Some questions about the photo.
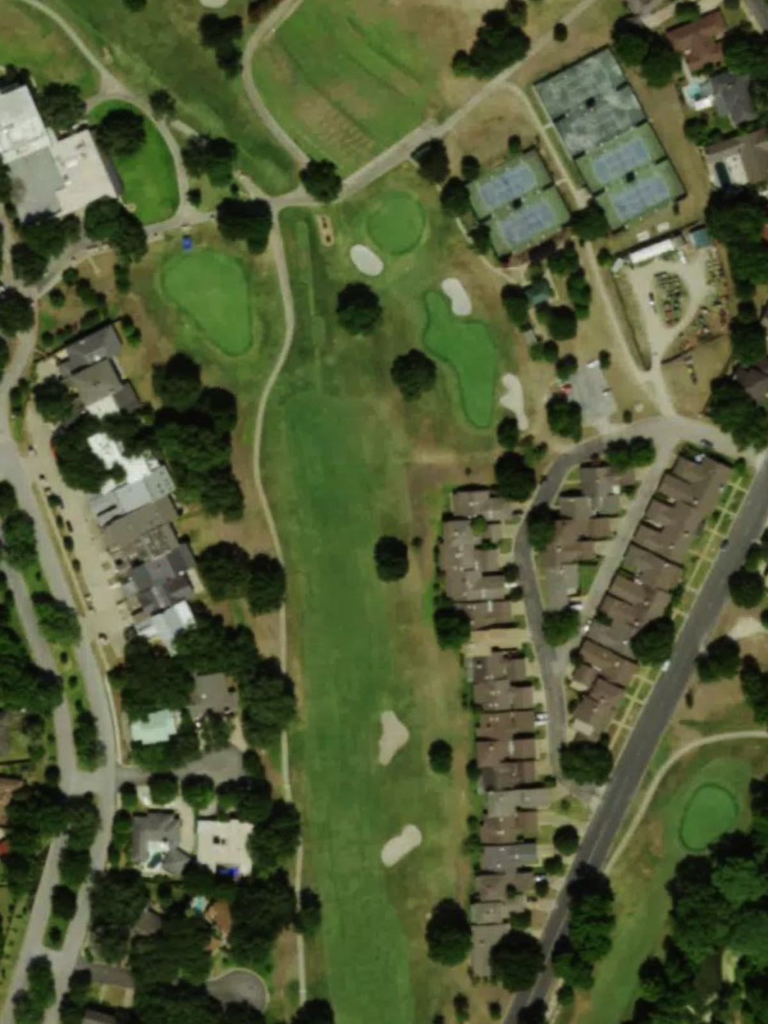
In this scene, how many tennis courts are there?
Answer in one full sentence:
The picture shows 6 tennis courts.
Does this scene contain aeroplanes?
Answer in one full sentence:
No, I can see no aeroplane in this picture.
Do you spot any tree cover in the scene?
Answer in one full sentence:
Yes, tree cover shows up in the scene.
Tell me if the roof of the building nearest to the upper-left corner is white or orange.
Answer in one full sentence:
From above, the roof of the building nearest to the upper-left corner appears white.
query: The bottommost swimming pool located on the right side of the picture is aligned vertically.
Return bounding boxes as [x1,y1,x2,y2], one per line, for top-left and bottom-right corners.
[715,161,730,190]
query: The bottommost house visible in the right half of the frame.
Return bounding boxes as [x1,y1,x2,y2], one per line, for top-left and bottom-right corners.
[472,926,511,978]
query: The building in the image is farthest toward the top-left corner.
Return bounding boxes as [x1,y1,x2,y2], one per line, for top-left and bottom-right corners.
[0,84,123,224]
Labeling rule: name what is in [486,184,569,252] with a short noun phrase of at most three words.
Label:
tennis court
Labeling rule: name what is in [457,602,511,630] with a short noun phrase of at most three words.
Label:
house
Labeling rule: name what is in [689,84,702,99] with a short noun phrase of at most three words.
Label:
swimming pool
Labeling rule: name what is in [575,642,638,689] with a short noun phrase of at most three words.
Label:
house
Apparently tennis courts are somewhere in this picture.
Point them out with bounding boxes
[591,156,686,232]
[486,184,569,252]
[471,151,554,219]
[552,83,647,158]
[533,46,628,121]
[572,120,666,195]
